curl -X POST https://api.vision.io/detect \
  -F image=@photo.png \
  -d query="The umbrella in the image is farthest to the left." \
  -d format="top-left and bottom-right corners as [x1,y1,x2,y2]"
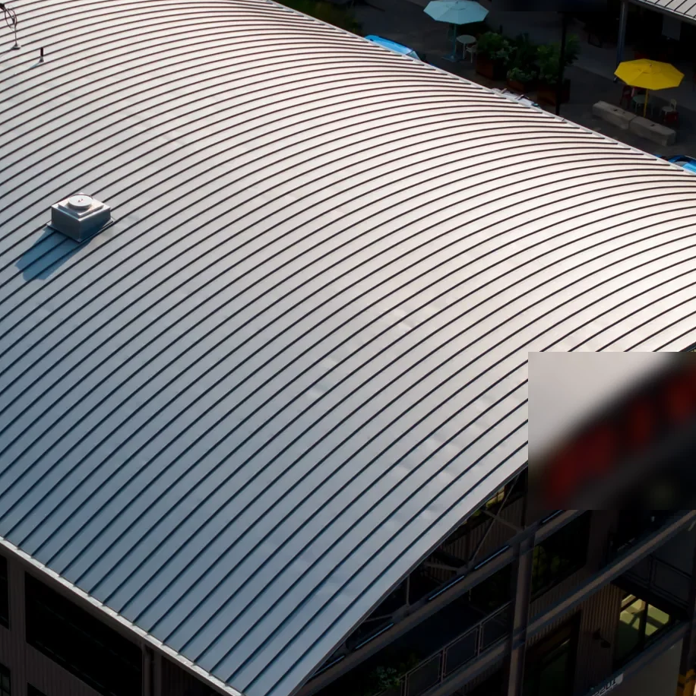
[425,0,488,62]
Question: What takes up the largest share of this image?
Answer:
buildings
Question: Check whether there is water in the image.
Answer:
No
